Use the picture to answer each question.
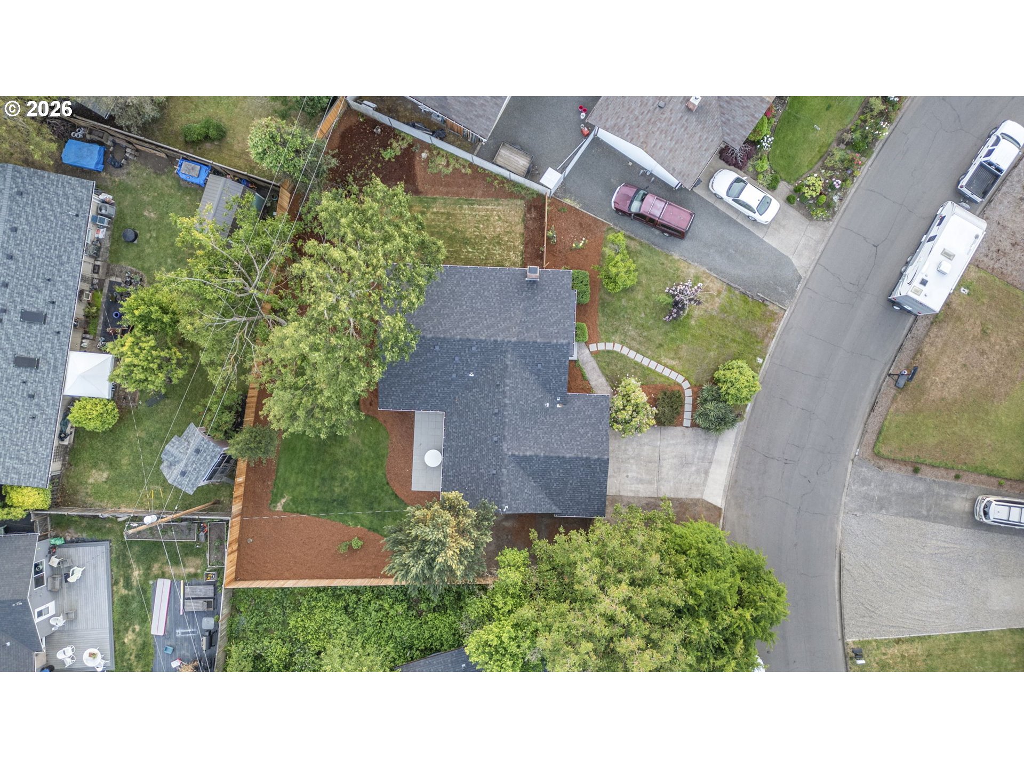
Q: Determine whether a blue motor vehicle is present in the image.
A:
No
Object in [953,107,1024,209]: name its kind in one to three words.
truck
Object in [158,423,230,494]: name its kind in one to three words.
shed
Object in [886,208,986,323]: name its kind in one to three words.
vehicle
